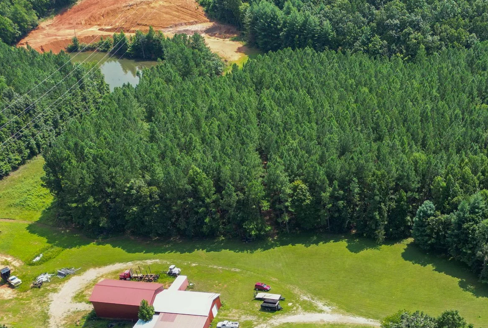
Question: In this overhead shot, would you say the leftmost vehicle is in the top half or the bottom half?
bottom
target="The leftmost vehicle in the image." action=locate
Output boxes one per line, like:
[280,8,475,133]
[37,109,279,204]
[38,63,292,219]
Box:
[0,268,21,288]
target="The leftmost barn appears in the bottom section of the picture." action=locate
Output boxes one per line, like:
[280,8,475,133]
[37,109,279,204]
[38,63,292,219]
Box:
[90,279,165,319]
